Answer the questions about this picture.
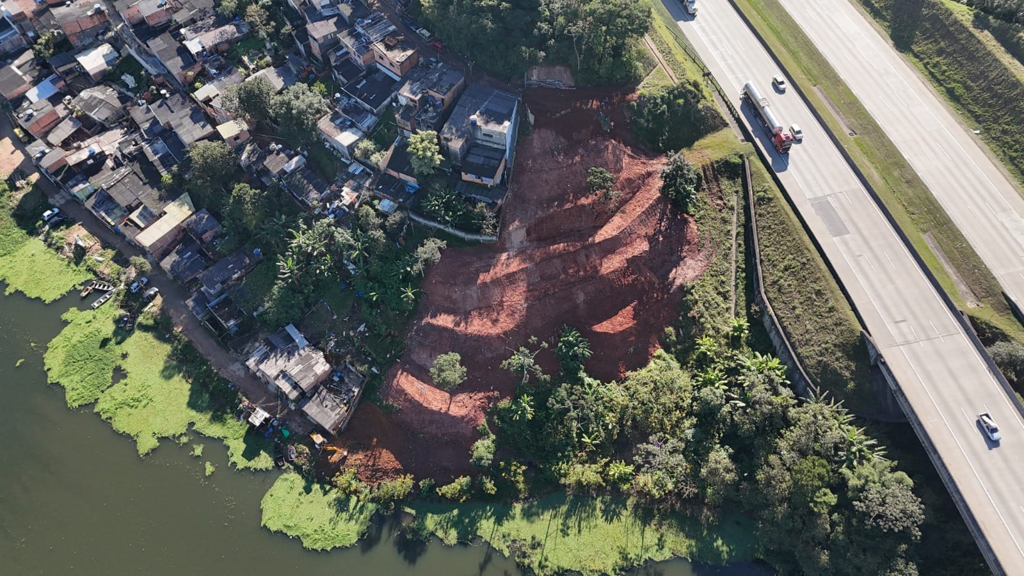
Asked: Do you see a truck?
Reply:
Yes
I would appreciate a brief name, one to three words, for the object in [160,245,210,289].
house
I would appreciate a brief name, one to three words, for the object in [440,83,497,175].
house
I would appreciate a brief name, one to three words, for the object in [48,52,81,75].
shed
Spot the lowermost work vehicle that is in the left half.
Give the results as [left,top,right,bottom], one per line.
[303,425,347,456]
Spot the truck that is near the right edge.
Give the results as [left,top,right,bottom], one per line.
[975,410,1002,442]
